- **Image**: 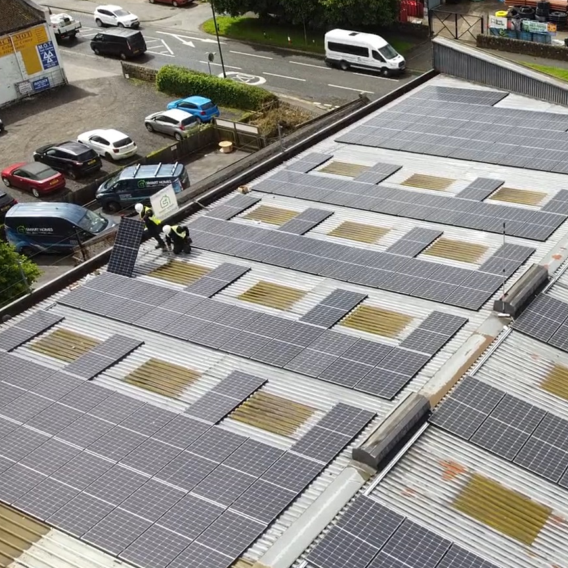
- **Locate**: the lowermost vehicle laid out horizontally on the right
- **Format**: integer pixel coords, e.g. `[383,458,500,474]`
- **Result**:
[324,30,405,75]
